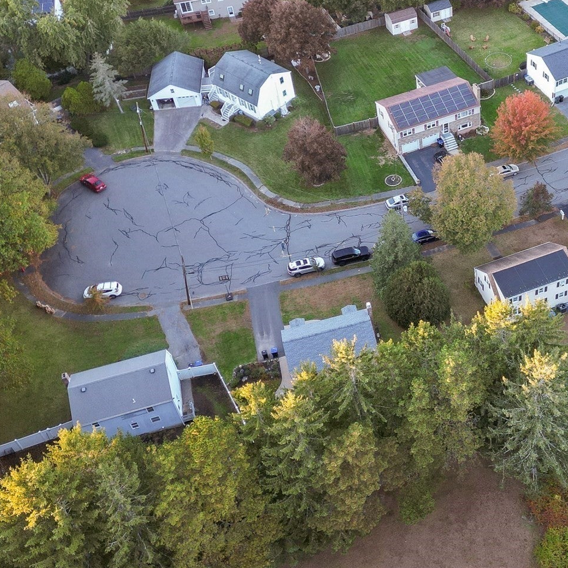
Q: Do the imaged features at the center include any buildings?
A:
Yes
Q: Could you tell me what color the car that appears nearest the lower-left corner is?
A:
white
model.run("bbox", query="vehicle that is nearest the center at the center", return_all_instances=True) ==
[286,257,325,279]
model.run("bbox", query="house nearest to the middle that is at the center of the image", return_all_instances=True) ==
[280,298,376,389]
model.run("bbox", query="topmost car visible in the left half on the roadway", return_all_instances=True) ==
[78,175,108,194]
